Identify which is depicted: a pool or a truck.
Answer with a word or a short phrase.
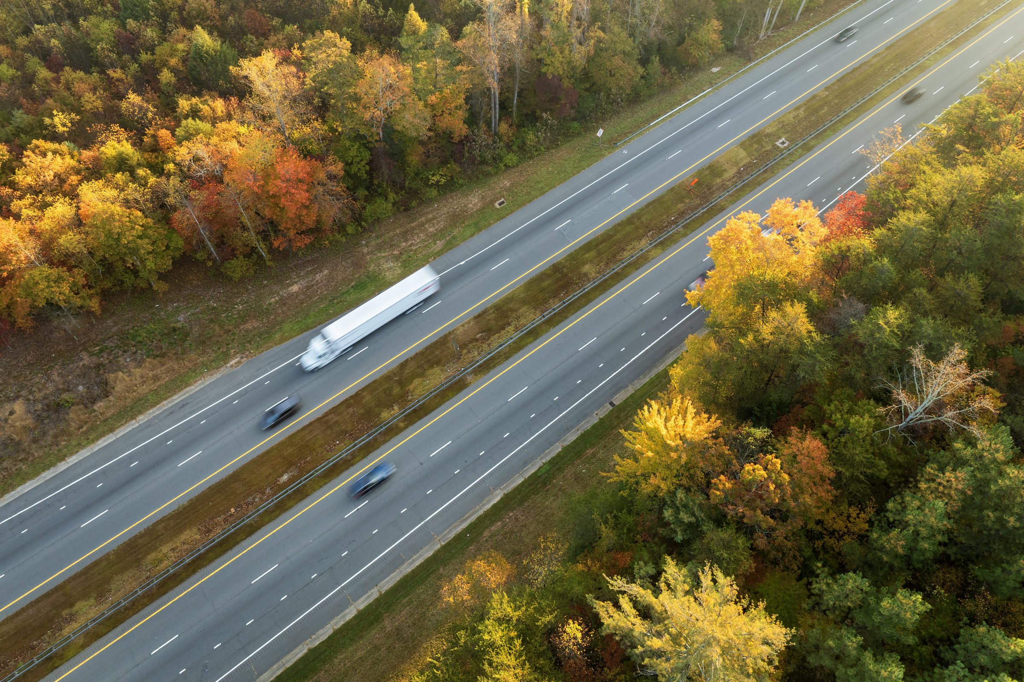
truck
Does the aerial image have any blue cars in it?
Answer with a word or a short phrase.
Yes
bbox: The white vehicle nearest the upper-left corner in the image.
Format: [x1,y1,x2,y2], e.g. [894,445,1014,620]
[299,265,446,376]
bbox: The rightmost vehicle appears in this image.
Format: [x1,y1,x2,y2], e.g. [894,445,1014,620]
[900,87,925,105]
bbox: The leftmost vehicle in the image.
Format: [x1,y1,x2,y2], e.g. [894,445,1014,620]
[260,398,299,429]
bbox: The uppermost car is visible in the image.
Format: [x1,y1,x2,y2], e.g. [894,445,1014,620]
[833,24,857,43]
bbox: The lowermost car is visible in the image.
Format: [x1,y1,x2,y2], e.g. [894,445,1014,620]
[350,464,391,498]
